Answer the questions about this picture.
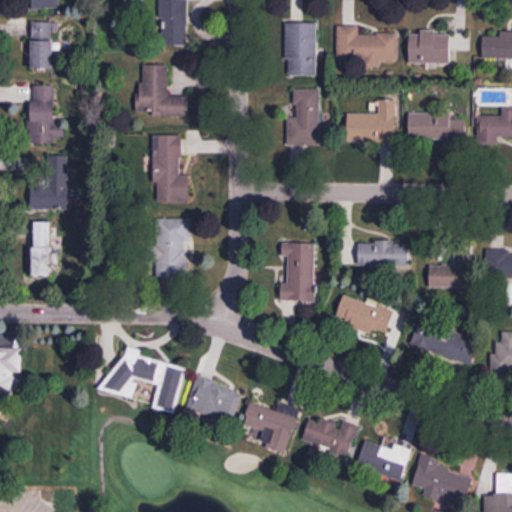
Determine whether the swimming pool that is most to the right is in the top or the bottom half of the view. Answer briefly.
top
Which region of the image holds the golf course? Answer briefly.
bottom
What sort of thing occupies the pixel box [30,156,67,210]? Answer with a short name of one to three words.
house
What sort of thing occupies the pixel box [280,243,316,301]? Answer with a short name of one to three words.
house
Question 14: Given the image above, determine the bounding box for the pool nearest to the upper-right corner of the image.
[473,88,512,108]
